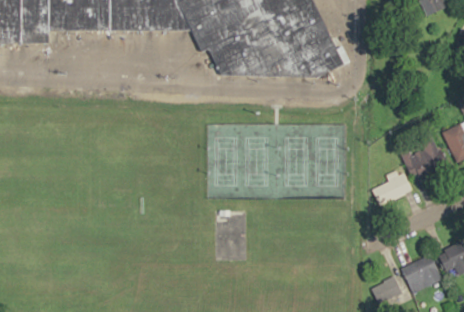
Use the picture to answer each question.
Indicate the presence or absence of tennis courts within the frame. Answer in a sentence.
Yes, the picture does show a tennis court.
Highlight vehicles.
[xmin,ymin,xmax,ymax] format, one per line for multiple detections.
[408,230,418,238]
[413,194,420,204]
[399,255,406,266]
[404,252,410,262]
[396,246,402,256]
[400,242,407,254]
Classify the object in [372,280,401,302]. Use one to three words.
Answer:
house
